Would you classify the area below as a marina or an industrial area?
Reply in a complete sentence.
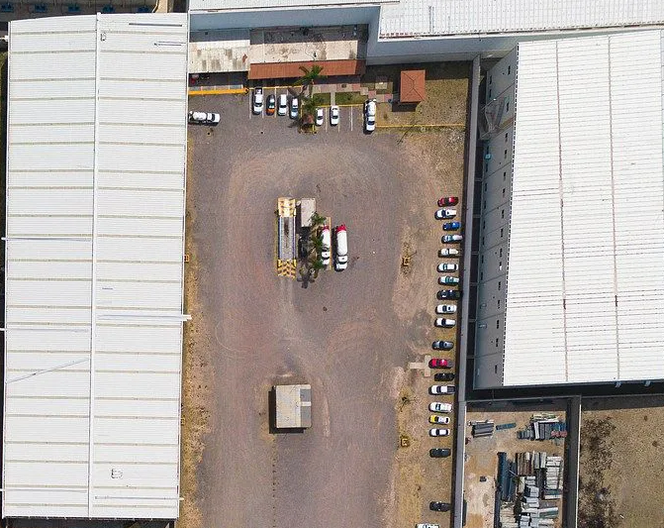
The picture captures an industrial area.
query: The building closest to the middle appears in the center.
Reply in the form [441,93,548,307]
[297,200,315,230]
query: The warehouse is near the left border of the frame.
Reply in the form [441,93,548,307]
[0,13,192,521]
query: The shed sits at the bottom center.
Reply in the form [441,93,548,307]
[272,384,311,428]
